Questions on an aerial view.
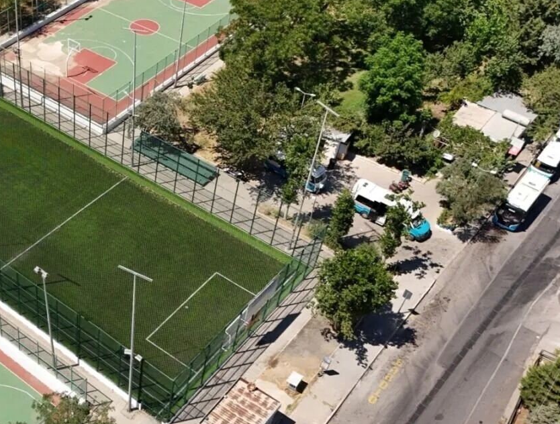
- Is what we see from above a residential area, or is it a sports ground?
sports ground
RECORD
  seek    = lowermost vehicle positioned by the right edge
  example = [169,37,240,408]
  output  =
[495,169,550,230]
